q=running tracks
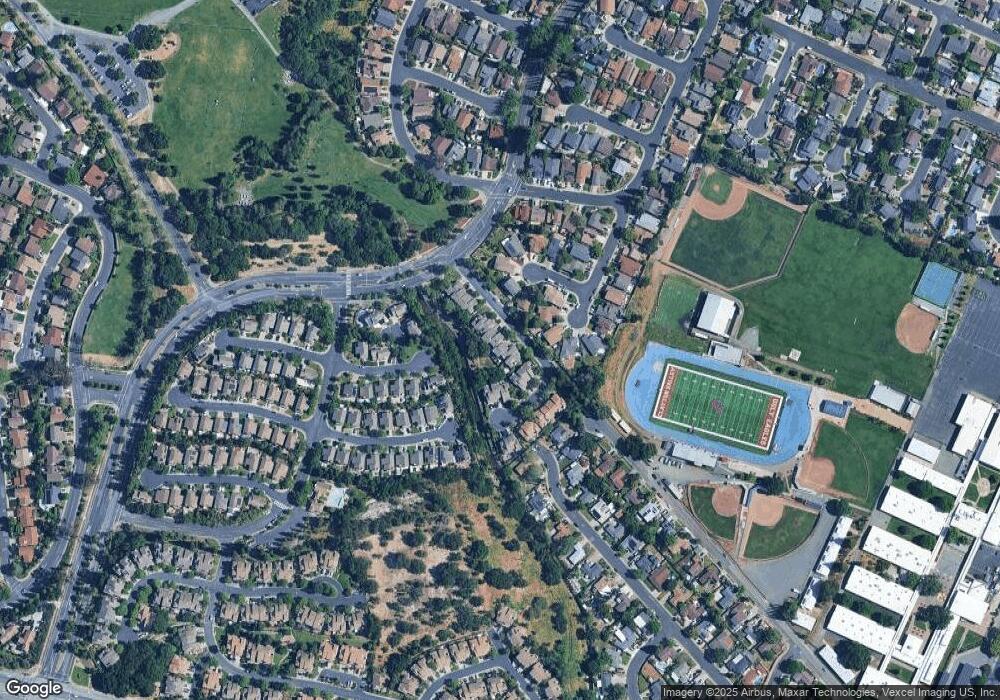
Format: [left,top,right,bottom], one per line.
[625,341,812,465]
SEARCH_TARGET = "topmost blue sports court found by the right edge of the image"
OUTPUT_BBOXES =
[913,262,962,308]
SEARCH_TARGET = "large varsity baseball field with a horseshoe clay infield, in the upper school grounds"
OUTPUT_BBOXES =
[658,162,809,292]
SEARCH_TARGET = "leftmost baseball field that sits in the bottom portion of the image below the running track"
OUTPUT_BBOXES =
[688,483,744,548]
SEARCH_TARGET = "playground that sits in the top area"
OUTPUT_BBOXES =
[140,32,182,61]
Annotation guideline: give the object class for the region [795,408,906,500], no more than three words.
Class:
baseball field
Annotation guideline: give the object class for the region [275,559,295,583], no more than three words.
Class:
house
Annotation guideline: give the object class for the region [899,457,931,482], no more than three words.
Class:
building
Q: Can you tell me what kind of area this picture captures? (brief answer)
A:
residential area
